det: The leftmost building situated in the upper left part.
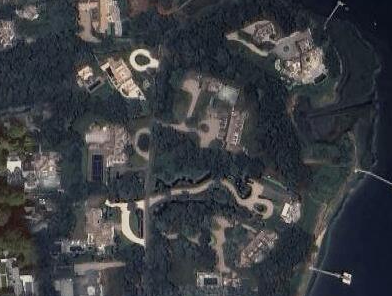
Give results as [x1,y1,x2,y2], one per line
[0,19,16,47]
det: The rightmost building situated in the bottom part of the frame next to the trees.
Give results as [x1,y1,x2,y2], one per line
[281,198,303,226]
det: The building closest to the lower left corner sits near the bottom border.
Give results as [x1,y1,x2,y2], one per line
[3,258,24,296]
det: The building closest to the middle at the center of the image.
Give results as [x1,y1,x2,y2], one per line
[213,106,245,151]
